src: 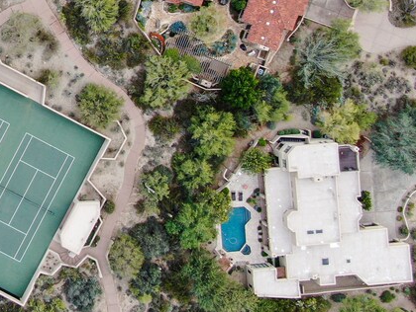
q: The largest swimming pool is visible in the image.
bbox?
[219,205,252,253]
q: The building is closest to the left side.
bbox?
[58,198,99,254]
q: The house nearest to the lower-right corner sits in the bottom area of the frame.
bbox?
[238,136,412,297]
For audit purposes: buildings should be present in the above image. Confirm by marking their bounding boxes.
[58,198,99,254]
[236,0,309,51]
[238,136,412,297]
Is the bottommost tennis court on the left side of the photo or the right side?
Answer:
left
